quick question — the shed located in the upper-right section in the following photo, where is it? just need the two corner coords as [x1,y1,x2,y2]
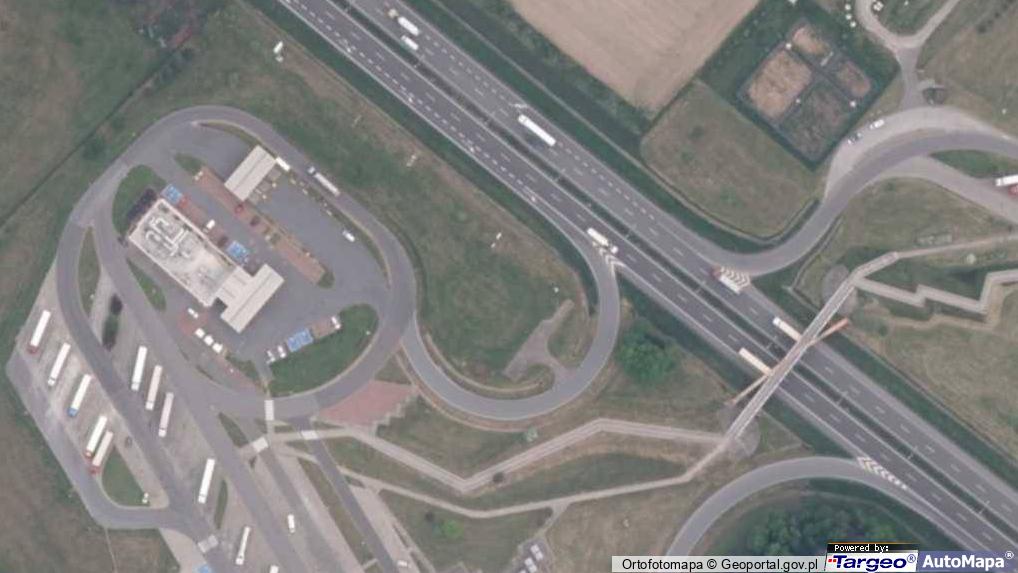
[924,86,948,103]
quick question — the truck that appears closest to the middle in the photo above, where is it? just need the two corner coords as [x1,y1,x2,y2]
[587,227,620,256]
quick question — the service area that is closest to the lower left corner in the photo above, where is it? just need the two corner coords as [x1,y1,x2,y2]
[5,103,419,573]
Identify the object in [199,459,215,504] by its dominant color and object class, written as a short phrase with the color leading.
white vehicle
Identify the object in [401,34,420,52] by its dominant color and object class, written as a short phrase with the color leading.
white vehicle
